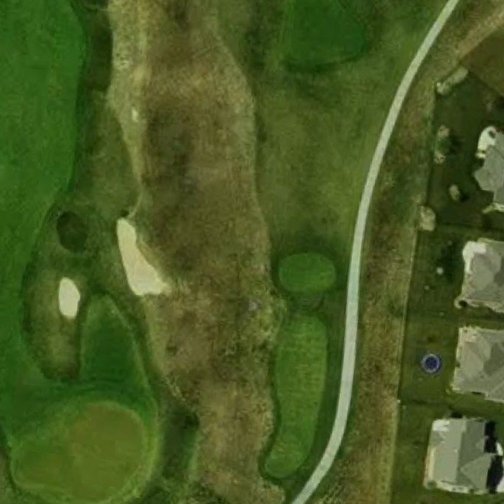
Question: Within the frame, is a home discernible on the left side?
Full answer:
No, looking on the left side, there is no home.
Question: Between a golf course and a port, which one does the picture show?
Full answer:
It's a golf course.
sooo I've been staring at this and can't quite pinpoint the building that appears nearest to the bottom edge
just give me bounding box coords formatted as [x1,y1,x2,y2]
[430,419,494,495]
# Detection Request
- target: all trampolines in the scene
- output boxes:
[422,353,440,372]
